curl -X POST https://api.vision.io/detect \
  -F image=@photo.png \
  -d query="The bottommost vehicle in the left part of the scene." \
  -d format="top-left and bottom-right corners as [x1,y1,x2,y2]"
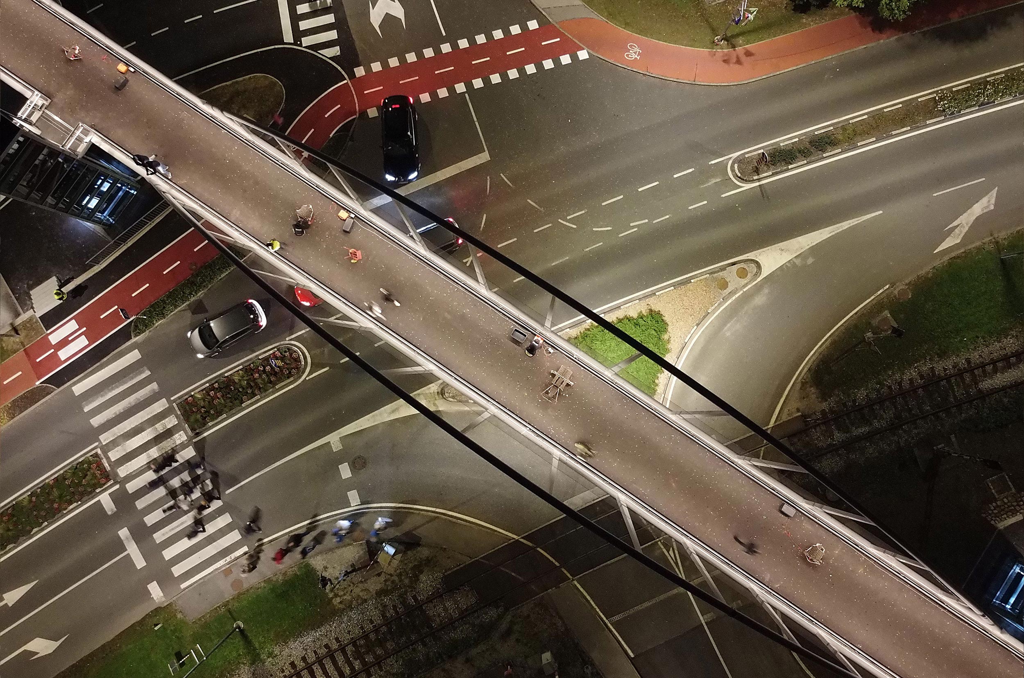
[185,295,269,359]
